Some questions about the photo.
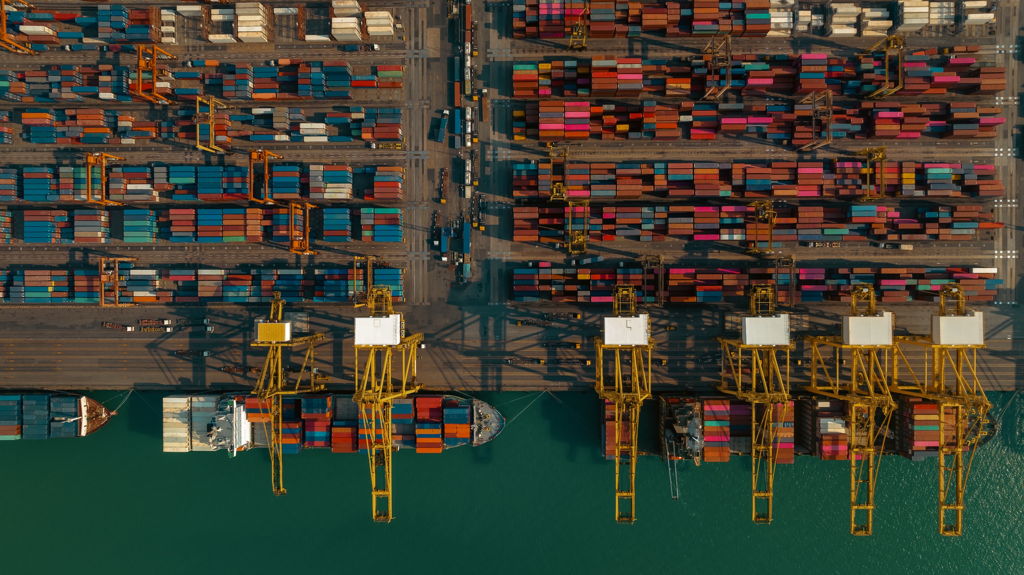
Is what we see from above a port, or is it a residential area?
port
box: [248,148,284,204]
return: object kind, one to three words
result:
container crane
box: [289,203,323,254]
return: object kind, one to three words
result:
container crane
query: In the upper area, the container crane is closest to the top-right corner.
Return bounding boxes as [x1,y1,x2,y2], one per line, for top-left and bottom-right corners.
[861,37,906,99]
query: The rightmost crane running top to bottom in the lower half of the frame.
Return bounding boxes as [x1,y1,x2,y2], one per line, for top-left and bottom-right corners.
[866,279,996,538]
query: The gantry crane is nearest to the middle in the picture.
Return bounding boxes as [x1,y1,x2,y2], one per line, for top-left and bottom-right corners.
[564,202,590,254]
